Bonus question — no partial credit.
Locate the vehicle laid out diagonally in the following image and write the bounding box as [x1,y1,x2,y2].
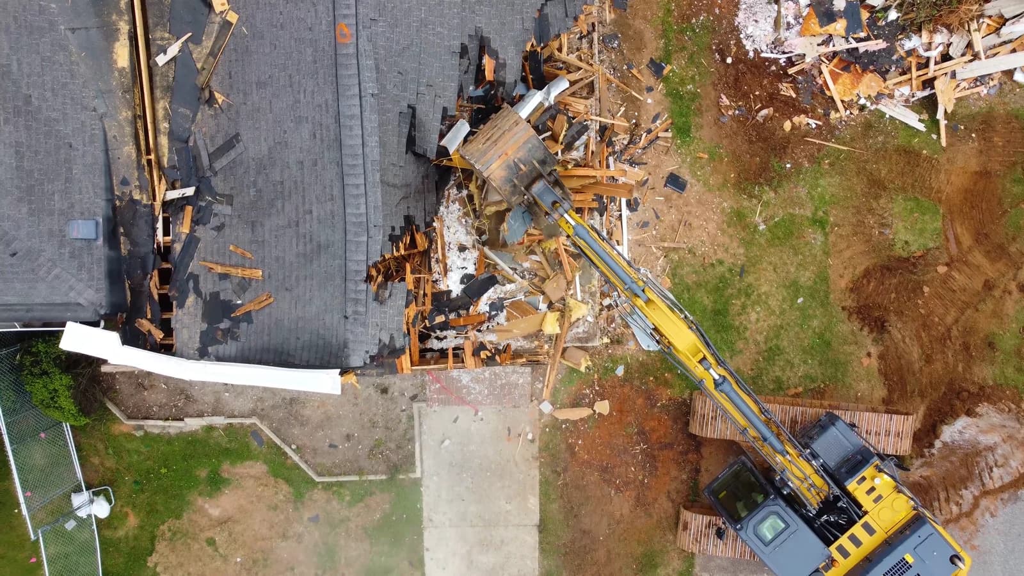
[449,105,974,576]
